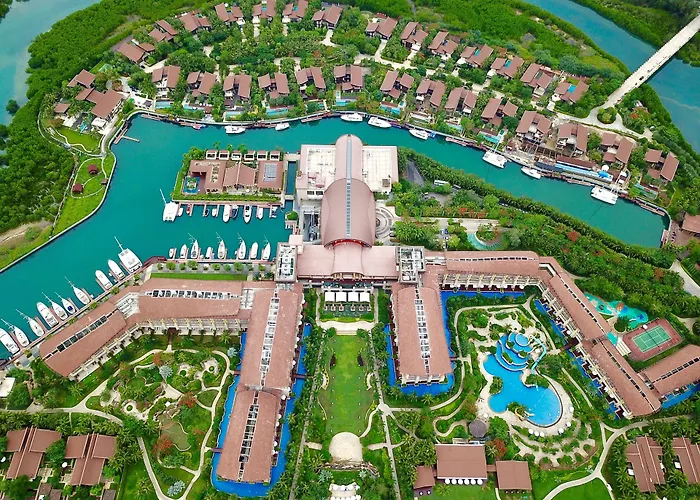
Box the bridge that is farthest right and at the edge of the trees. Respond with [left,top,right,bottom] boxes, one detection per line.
[623,10,700,86]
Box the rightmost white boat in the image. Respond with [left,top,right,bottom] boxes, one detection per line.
[592,187,618,205]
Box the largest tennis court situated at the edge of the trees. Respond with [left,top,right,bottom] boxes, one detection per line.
[623,316,686,361]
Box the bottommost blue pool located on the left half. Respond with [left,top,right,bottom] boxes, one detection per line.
[210,323,310,498]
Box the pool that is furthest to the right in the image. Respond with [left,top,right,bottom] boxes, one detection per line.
[660,380,700,410]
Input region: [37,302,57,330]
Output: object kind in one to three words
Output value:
boat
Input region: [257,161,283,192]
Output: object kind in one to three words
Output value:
building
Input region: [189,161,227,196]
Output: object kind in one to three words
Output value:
building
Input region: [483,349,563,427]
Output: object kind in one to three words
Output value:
swimming pool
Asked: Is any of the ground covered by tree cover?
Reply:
Yes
